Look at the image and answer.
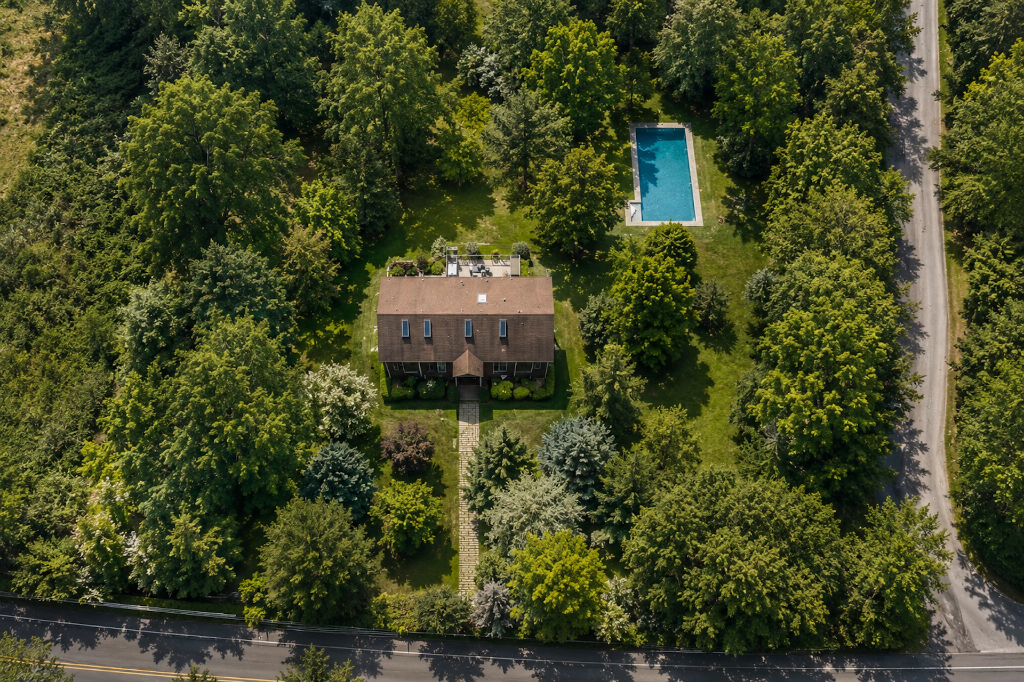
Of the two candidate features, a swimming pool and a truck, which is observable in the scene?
swimming pool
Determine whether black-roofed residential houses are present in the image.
No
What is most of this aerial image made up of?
trees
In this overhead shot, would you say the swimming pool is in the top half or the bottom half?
top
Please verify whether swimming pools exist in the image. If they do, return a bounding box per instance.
[623,122,703,226]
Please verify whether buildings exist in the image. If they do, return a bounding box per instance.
[377,270,554,388]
